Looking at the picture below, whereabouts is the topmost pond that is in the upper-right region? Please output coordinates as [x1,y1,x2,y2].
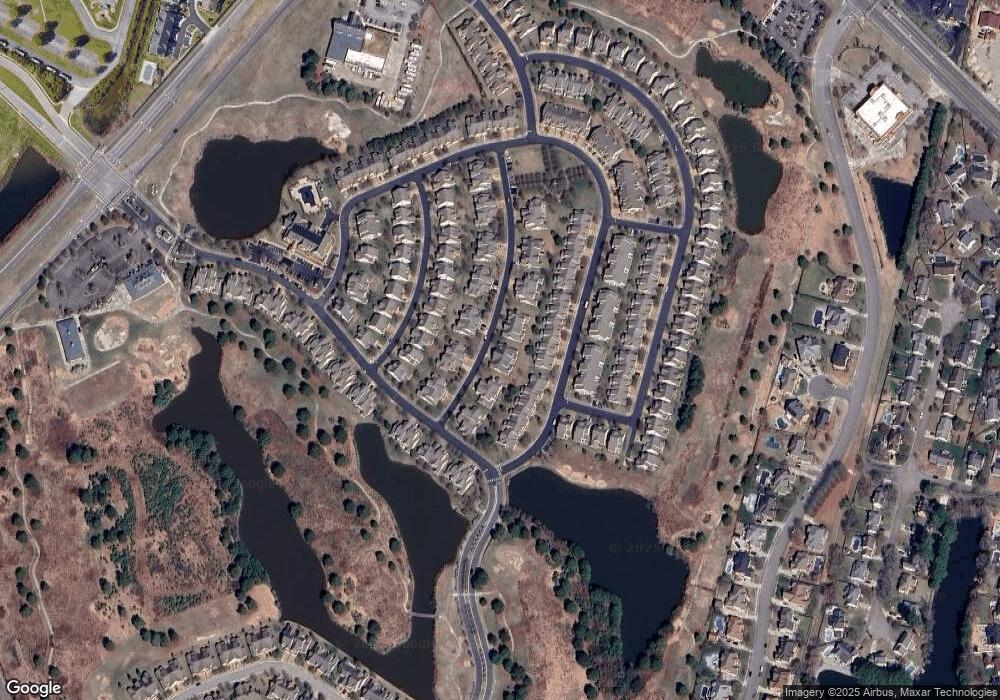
[695,47,770,108]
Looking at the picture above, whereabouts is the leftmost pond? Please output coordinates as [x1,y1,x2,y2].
[0,149,60,243]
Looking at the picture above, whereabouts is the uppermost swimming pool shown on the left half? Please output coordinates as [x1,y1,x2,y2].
[142,62,156,83]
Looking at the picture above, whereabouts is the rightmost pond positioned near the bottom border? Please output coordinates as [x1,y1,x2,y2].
[913,516,984,700]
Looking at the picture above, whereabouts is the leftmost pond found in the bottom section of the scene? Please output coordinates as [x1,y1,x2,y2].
[508,468,689,664]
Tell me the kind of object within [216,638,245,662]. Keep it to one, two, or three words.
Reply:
house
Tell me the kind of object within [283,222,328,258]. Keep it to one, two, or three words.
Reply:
building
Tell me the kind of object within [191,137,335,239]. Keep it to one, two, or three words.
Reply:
pond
